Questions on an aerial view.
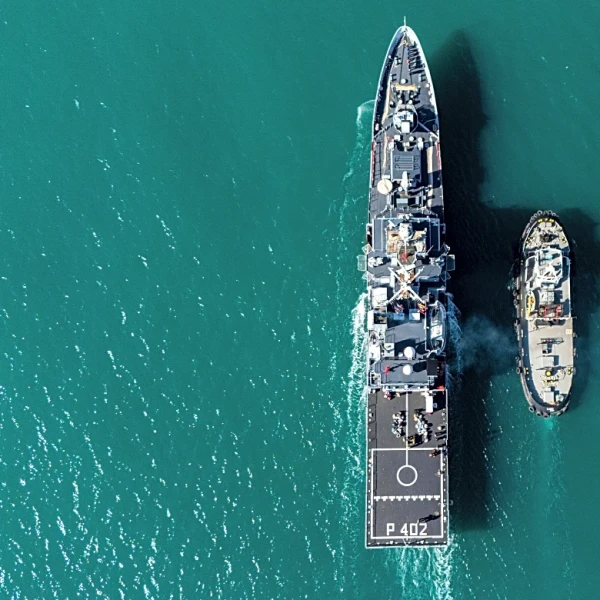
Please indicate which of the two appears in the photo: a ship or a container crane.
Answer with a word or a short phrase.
ship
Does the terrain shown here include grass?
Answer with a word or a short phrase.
No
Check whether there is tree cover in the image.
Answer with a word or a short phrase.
No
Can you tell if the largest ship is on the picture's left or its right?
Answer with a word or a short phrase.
right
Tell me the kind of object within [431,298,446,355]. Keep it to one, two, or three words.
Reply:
boat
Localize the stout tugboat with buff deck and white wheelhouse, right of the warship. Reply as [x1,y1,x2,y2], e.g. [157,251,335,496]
[512,209,578,417]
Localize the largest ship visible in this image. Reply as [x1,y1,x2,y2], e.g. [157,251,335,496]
[357,16,455,548]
